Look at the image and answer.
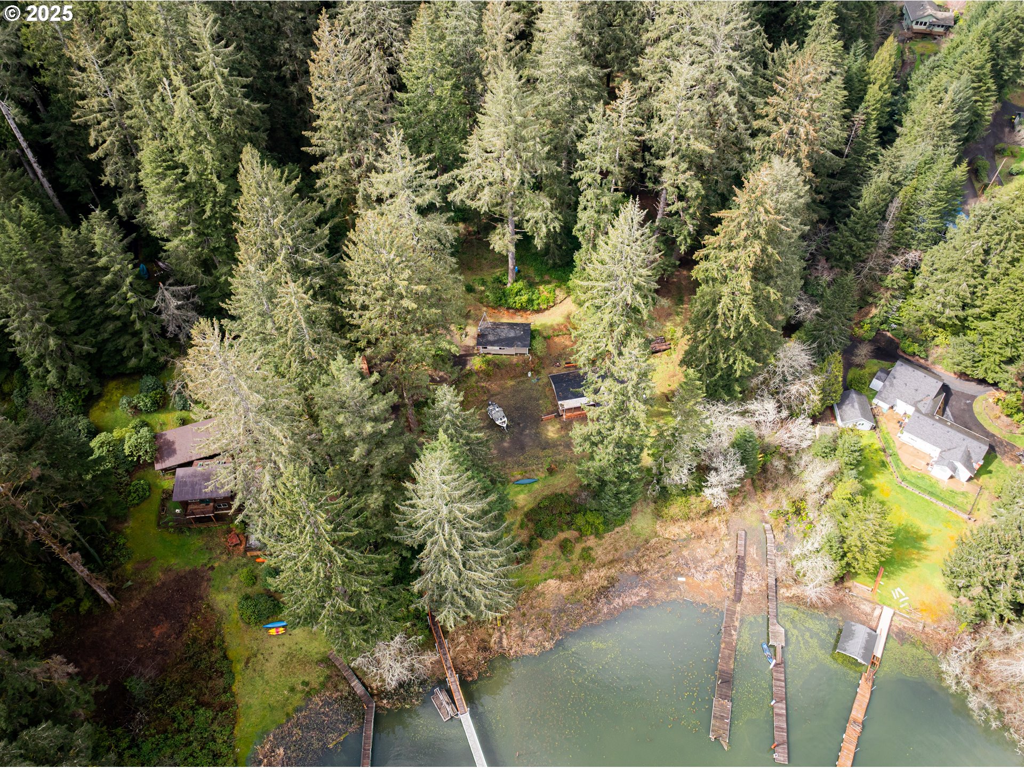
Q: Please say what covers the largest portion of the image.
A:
trees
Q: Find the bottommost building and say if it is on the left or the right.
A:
right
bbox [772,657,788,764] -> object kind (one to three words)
pier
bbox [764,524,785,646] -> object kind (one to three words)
pier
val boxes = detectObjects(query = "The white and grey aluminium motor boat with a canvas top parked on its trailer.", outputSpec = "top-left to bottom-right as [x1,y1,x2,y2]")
[487,395,506,424]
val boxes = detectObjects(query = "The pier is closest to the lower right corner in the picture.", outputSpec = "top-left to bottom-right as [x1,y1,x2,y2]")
[836,672,873,768]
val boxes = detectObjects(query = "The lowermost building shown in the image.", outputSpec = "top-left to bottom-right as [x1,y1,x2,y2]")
[833,620,873,669]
